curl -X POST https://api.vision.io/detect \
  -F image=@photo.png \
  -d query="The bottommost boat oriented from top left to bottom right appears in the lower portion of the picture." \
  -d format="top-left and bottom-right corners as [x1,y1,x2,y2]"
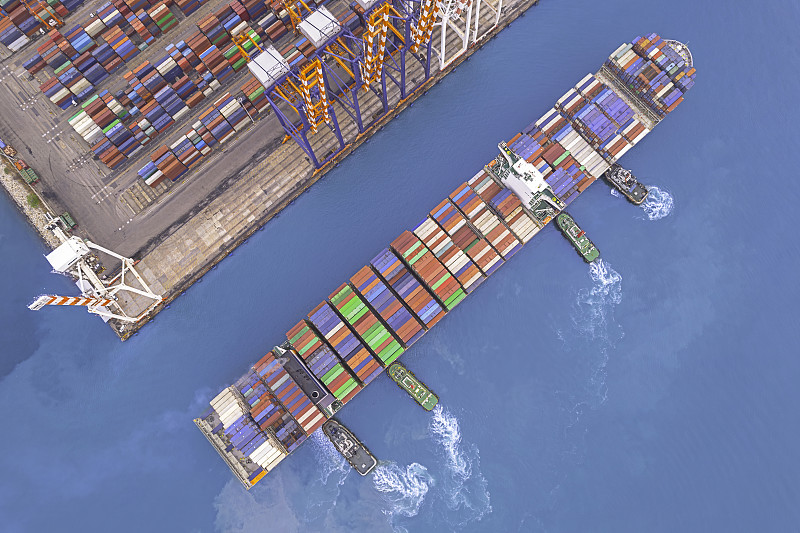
[323,418,380,479]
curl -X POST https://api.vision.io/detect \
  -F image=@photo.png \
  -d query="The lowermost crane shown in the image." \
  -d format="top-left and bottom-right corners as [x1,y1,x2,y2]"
[34,218,174,324]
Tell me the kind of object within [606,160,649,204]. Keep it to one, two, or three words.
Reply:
boat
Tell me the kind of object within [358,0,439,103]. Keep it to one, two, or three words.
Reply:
container crane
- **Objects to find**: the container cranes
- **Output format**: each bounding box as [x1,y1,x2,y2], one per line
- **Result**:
[34,218,174,324]
[358,0,439,103]
[230,27,354,173]
[280,0,396,137]
[407,0,474,73]
[439,0,505,45]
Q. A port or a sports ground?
port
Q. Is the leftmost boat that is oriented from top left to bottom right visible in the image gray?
Yes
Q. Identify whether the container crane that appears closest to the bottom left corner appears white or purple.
white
